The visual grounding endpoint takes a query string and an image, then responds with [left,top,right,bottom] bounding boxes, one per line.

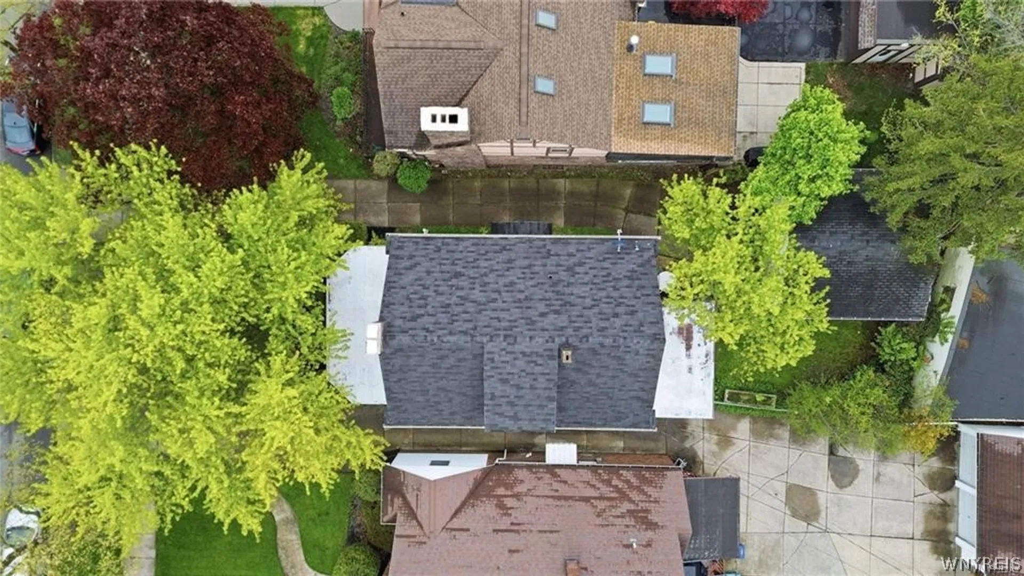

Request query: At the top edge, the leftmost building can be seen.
[375,0,742,167]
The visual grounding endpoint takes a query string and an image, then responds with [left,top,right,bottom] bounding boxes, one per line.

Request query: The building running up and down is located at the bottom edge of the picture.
[958,419,1024,576]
